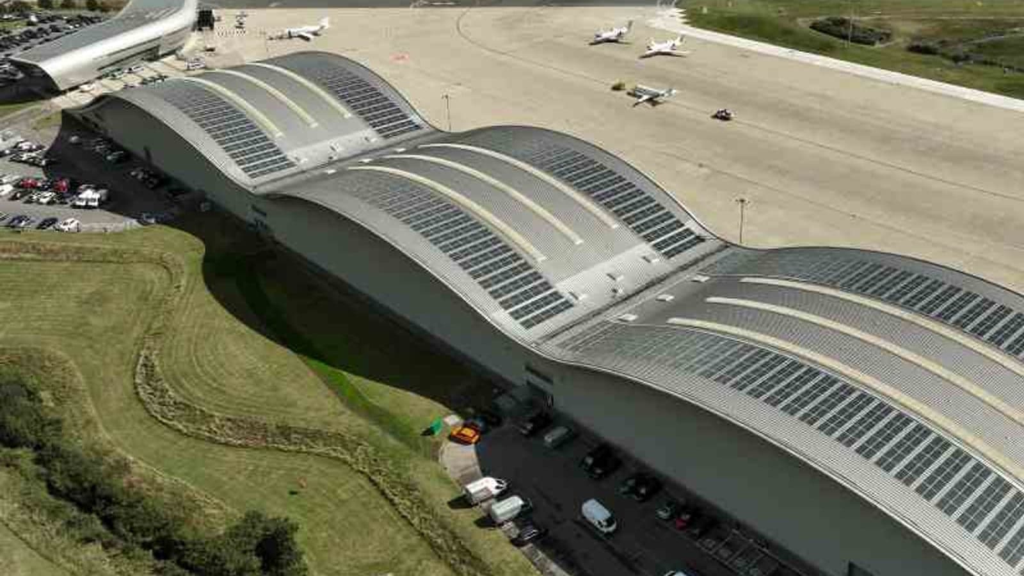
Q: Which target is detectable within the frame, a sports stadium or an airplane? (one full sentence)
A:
This aerial view contains an airplane.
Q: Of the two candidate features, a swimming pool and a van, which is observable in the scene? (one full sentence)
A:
The image shows a van.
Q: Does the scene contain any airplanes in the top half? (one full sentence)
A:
Yes, in the top half there is an airplane.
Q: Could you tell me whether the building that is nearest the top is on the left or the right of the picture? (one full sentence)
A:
The building that is nearest the top is on the left side of the image.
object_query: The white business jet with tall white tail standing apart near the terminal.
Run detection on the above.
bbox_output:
[276,14,333,38]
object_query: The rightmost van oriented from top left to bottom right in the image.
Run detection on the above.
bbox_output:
[582,498,616,533]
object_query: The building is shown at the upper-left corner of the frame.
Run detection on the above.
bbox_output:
[8,0,214,91]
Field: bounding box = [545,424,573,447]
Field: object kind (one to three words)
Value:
vehicle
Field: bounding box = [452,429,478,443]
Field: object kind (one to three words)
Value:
car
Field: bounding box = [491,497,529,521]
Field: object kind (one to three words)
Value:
vehicle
